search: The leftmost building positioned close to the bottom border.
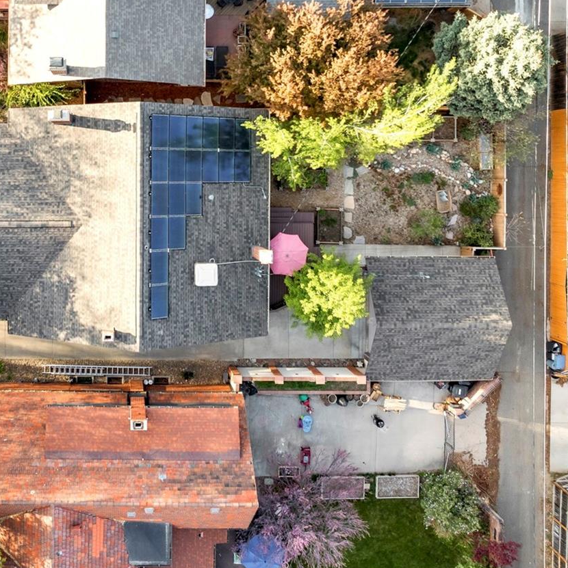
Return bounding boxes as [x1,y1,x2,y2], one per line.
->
[0,372,259,568]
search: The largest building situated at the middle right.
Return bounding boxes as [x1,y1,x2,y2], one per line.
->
[359,255,512,382]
